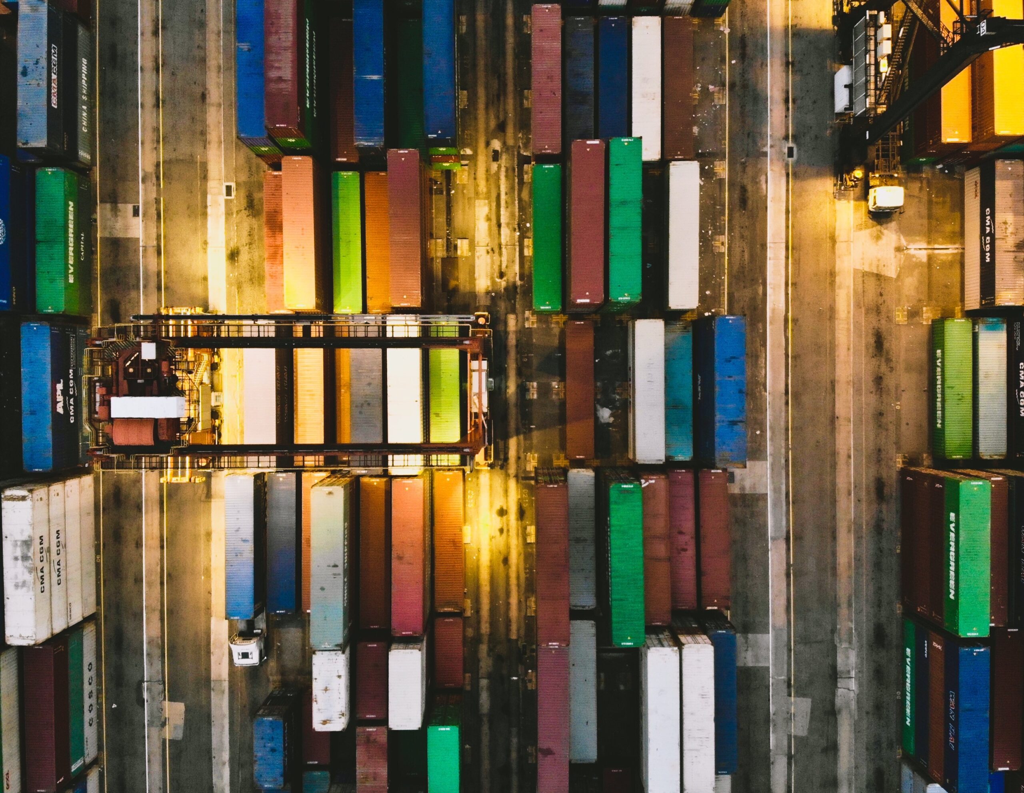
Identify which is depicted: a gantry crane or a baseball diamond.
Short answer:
gantry crane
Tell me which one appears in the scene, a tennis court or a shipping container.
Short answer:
shipping container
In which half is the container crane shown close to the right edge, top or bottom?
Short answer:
top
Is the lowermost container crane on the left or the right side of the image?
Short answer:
left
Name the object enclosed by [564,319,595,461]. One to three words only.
shipping container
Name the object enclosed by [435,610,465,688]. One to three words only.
shipping container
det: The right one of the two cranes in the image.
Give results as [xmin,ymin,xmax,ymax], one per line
[828,0,1024,199]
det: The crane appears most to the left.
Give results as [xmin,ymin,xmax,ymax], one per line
[76,306,503,486]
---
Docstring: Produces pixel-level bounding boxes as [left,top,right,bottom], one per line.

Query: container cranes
[76,306,503,486]
[828,0,1024,199]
